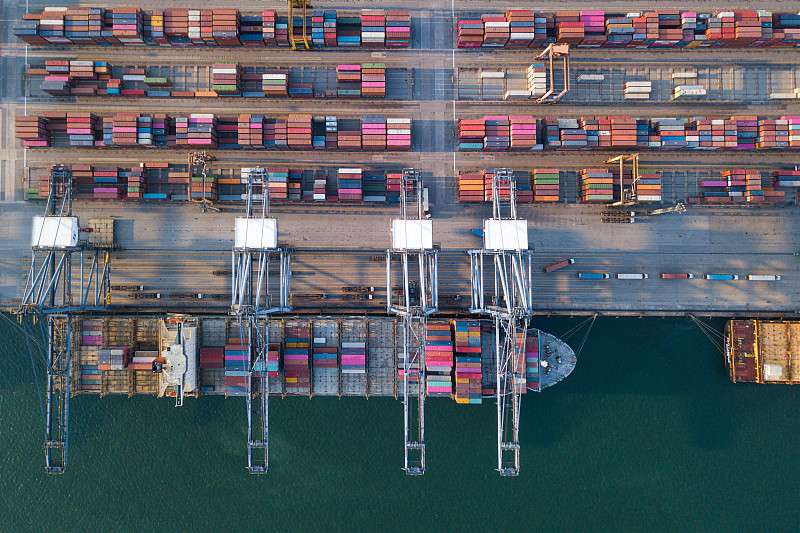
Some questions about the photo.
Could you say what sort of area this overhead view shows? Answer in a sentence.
This image shows a port.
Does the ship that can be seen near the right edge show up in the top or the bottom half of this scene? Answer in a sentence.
You can find the ship that can be seen near the right edge in the bottom half.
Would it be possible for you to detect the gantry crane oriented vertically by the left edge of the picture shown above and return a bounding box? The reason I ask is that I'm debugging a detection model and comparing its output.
[13,163,120,474]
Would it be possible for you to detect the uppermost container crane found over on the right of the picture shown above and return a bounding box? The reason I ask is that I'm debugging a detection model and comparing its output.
[537,41,570,102]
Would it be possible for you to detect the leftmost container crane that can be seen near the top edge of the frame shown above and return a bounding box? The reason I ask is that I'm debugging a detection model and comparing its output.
[286,0,313,49]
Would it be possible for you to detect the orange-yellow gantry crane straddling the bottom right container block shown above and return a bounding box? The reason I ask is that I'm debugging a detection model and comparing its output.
[603,152,639,206]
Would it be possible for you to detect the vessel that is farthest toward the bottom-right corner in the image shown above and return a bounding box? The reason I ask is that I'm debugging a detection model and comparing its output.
[723,320,800,386]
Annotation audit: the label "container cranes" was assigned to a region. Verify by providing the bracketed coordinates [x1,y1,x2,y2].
[13,163,120,474]
[465,166,536,477]
[603,152,639,206]
[227,163,298,475]
[381,165,442,476]
[537,41,570,102]
[184,148,215,204]
[286,0,313,49]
